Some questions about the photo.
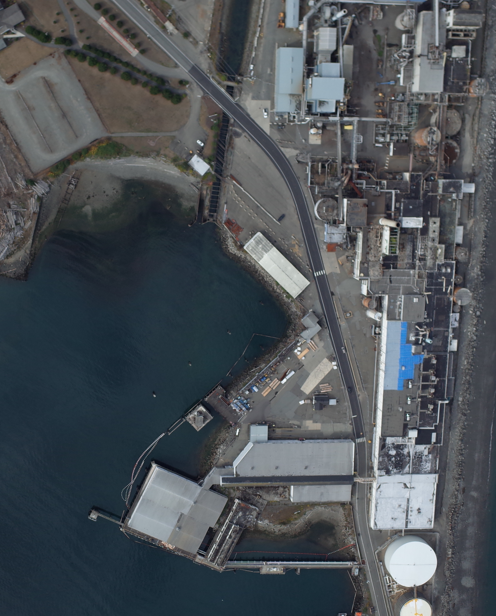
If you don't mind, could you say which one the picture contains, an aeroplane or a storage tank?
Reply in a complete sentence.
It is a storage tank that can be seen here.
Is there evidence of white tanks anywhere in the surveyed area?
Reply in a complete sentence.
Yes, you can see a white tank in this photo.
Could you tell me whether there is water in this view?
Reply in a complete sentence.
Yes, there is water in the image.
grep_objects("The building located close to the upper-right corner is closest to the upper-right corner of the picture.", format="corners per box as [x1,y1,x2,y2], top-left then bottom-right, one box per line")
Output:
[446,9,485,31]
